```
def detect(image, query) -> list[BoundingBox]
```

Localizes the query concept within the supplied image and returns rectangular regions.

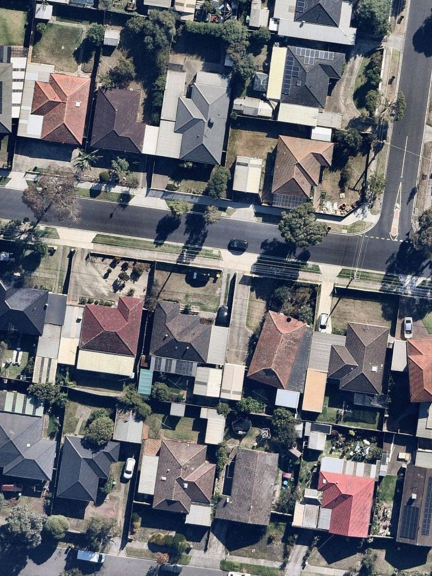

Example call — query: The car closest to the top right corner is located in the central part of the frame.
[227,237,251,249]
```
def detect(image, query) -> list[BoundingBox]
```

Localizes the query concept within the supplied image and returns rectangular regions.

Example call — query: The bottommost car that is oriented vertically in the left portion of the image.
[123,457,136,481]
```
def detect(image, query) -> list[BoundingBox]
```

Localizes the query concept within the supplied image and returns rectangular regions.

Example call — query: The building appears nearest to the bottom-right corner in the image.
[397,466,432,546]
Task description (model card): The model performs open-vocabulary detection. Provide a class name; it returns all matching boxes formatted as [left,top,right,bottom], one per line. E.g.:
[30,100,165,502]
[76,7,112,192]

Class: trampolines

[232,417,252,437]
